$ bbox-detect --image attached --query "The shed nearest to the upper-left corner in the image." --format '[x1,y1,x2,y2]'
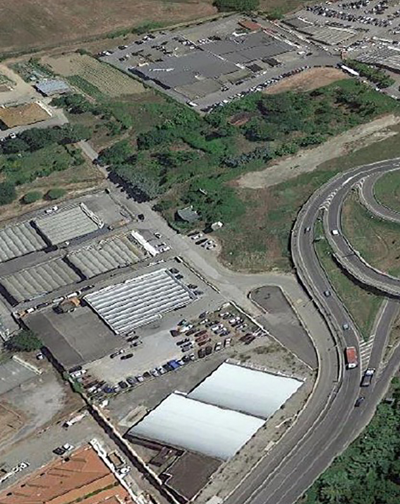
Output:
[34,78,70,97]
